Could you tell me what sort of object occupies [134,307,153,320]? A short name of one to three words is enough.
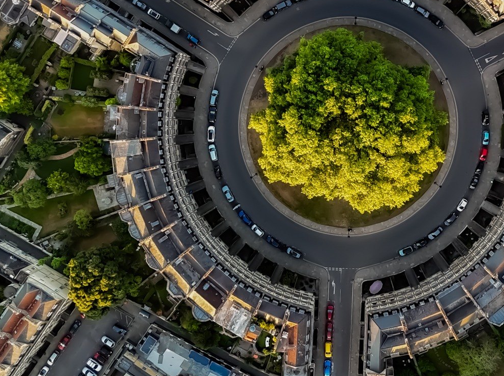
vehicle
